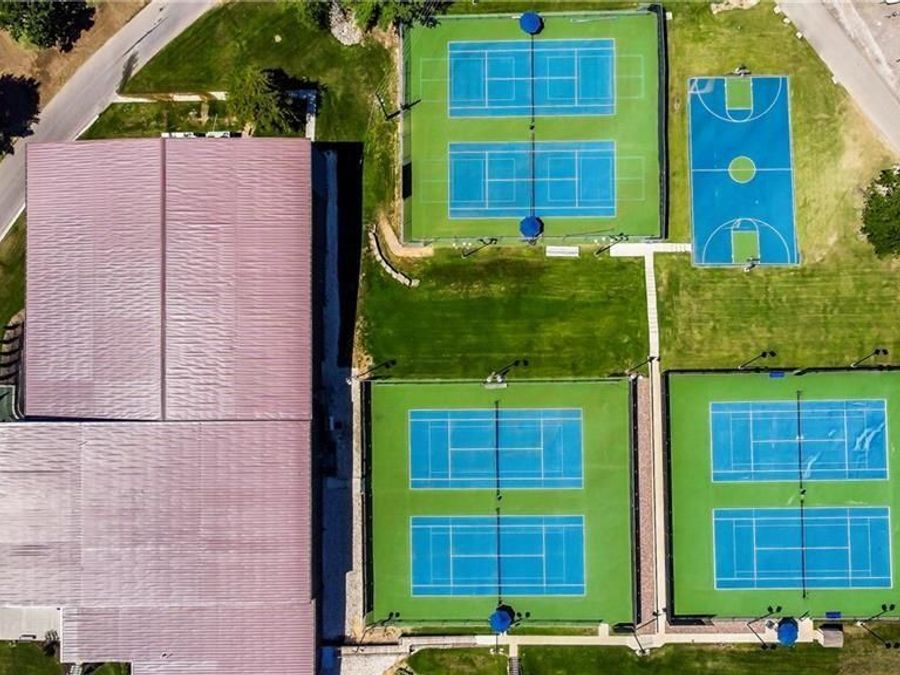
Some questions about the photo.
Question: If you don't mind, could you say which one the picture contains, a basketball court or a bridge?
basketball court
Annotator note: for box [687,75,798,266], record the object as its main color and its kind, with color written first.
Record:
blue basketball court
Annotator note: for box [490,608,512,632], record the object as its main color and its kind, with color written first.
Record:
blue umbrella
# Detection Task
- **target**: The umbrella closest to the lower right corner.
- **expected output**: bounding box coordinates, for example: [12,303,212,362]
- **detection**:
[777,621,799,642]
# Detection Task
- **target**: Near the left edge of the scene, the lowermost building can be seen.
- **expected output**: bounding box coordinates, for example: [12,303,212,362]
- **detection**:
[0,419,322,675]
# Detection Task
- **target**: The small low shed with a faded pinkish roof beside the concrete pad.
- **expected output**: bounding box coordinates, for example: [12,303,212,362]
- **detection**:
[809,628,844,647]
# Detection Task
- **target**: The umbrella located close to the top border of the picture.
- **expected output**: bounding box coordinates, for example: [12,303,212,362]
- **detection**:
[519,13,543,37]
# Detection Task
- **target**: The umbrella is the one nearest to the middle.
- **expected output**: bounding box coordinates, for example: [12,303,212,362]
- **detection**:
[519,216,542,239]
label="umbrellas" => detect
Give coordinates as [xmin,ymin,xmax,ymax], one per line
[490,608,512,632]
[519,13,543,37]
[519,216,542,239]
[777,621,799,642]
